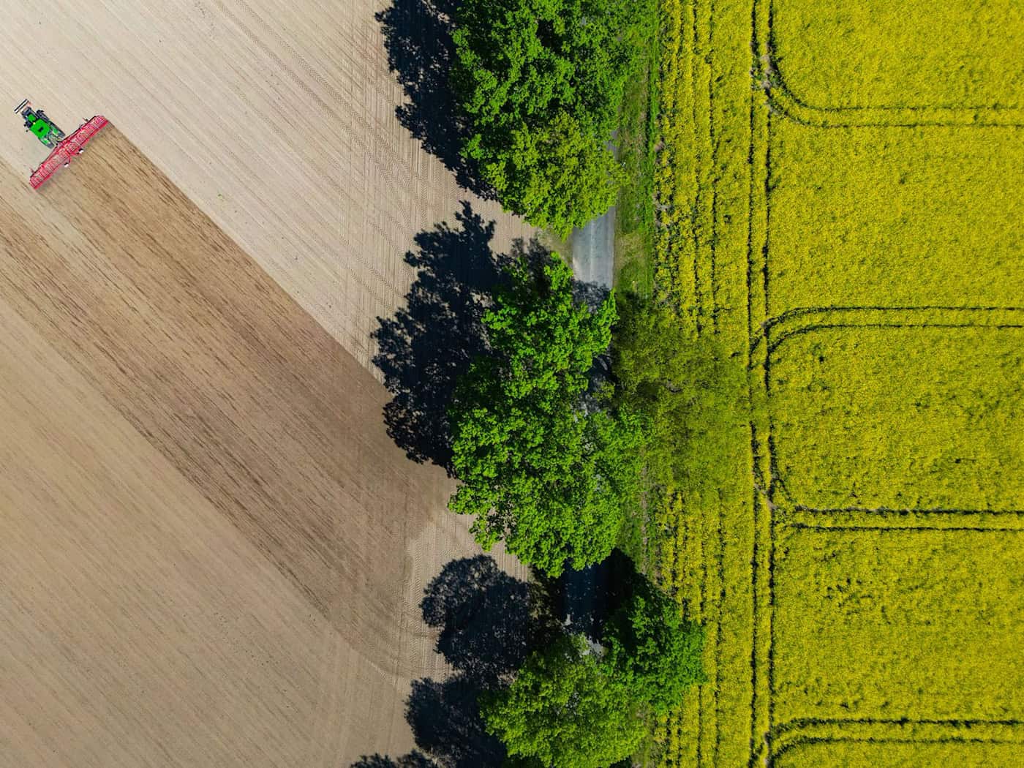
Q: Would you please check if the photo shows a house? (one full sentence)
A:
No, no house can be seen from above.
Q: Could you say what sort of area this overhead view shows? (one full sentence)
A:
This looks like farmland.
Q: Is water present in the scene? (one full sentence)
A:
No, there's no water in this view.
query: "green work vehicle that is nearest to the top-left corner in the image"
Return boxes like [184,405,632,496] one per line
[14,100,65,151]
